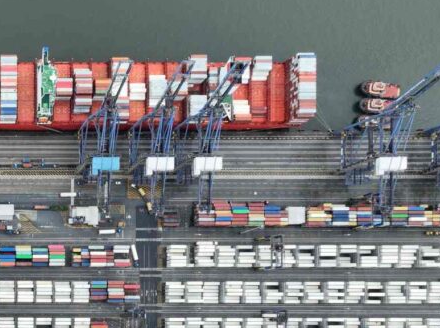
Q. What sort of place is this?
port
